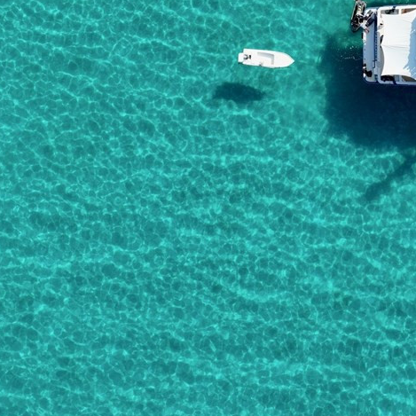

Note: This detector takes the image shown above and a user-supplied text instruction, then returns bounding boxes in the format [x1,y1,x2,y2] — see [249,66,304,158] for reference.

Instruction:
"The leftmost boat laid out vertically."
[348,0,365,32]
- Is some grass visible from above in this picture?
No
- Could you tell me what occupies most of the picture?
water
